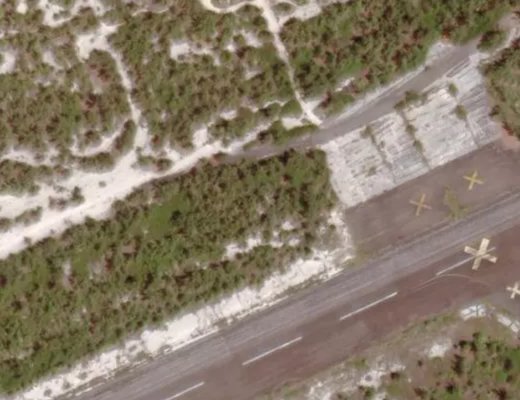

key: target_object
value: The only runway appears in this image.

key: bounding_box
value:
[60,187,520,400]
